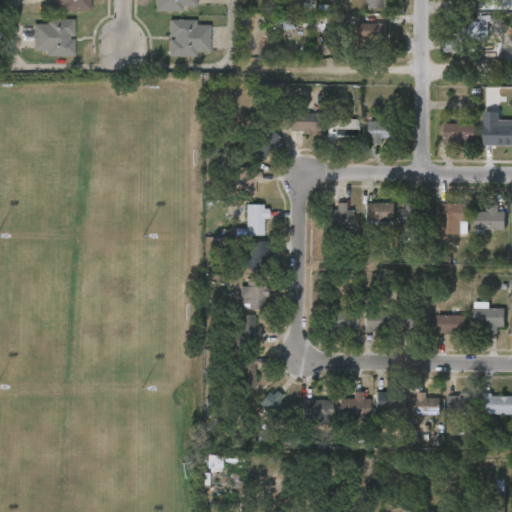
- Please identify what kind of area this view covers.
sports ground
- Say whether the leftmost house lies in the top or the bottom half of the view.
top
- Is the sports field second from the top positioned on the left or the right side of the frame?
left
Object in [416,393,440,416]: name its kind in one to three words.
house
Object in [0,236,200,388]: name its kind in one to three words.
sports field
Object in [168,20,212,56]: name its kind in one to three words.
house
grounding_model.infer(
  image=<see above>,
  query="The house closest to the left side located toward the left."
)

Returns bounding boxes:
[34,20,76,56]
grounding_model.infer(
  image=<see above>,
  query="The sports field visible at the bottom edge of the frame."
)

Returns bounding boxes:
[0,388,200,512]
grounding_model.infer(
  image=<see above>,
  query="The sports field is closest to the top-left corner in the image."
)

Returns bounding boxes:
[0,80,200,236]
